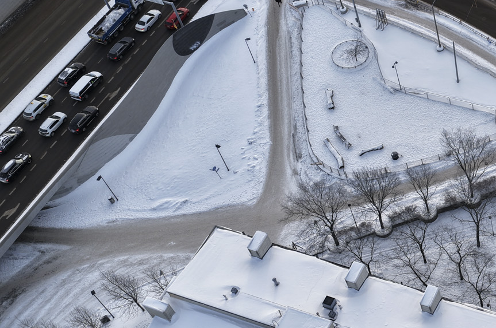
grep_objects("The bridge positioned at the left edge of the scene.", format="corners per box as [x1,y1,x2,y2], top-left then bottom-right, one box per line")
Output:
[0,78,139,263]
